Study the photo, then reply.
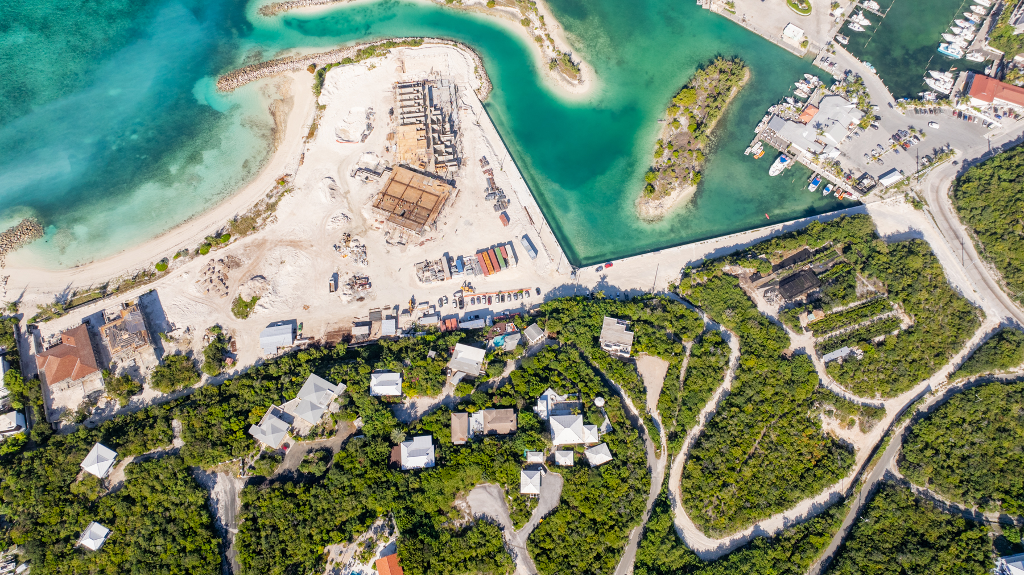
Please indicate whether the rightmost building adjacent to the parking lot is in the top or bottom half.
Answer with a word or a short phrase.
top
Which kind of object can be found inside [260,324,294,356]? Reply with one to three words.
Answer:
shed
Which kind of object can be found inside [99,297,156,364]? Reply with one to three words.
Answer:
house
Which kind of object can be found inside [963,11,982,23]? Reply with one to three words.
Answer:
boat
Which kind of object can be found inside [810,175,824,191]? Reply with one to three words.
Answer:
boat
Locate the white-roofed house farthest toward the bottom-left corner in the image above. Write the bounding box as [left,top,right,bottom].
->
[80,522,112,551]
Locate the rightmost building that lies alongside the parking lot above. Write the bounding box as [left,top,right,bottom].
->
[963,74,1024,115]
